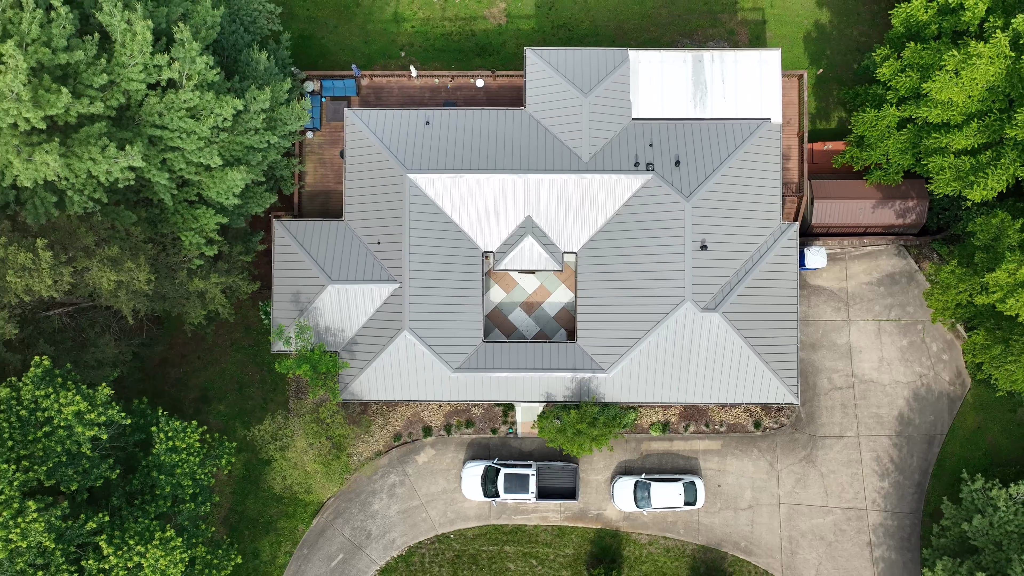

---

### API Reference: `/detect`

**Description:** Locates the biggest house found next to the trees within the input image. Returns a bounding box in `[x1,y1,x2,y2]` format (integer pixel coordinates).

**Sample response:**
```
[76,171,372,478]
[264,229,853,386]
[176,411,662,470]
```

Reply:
[271,47,799,405]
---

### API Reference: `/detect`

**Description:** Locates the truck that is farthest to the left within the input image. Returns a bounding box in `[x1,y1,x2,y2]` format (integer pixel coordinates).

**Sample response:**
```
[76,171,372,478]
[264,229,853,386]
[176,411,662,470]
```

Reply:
[460,456,582,511]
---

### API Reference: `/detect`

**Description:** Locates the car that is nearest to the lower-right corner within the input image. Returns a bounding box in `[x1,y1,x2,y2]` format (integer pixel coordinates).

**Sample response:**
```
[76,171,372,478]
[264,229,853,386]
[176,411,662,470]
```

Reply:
[610,470,706,517]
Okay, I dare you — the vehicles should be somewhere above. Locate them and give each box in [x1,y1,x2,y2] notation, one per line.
[610,470,706,517]
[460,456,582,511]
